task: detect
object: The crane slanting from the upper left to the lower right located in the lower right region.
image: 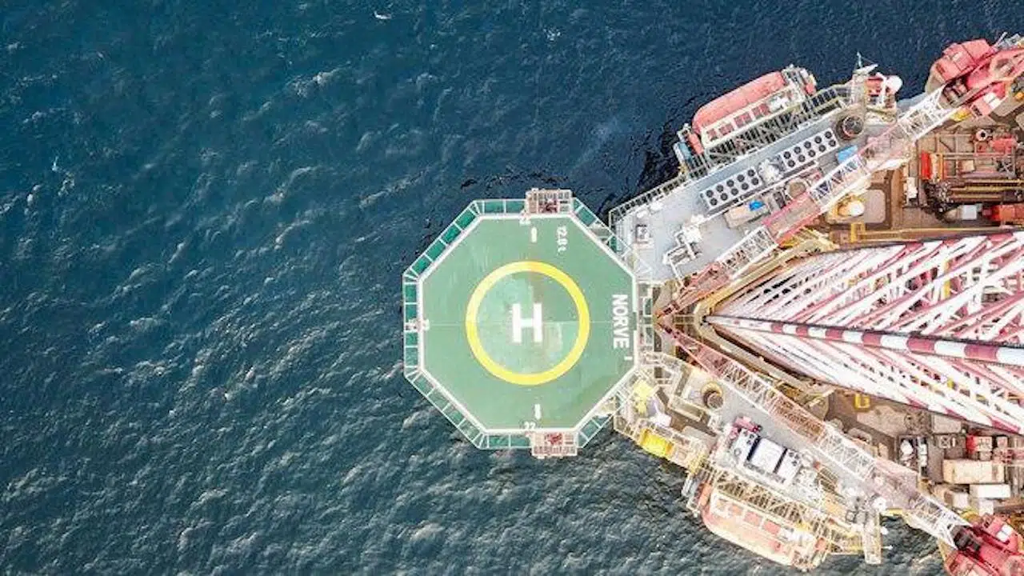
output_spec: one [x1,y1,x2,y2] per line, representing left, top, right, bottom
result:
[658,317,1024,576]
